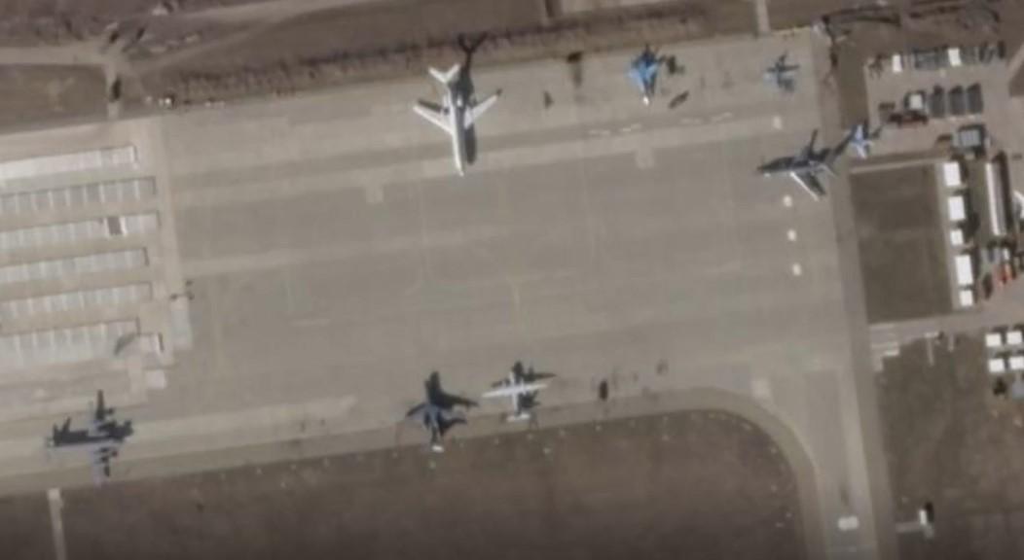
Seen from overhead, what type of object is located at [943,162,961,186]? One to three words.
shed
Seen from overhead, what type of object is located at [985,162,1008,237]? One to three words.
building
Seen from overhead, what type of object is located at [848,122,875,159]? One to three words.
airplane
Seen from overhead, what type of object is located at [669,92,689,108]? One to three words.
vehicle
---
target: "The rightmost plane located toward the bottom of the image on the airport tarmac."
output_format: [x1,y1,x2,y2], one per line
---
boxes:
[484,371,545,422]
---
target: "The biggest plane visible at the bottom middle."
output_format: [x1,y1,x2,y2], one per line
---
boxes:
[399,379,472,455]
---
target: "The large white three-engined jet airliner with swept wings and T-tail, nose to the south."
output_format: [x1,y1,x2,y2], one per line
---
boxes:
[418,64,497,176]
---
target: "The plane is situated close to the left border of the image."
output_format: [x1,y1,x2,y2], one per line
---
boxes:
[50,403,127,492]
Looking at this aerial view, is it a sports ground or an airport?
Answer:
airport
